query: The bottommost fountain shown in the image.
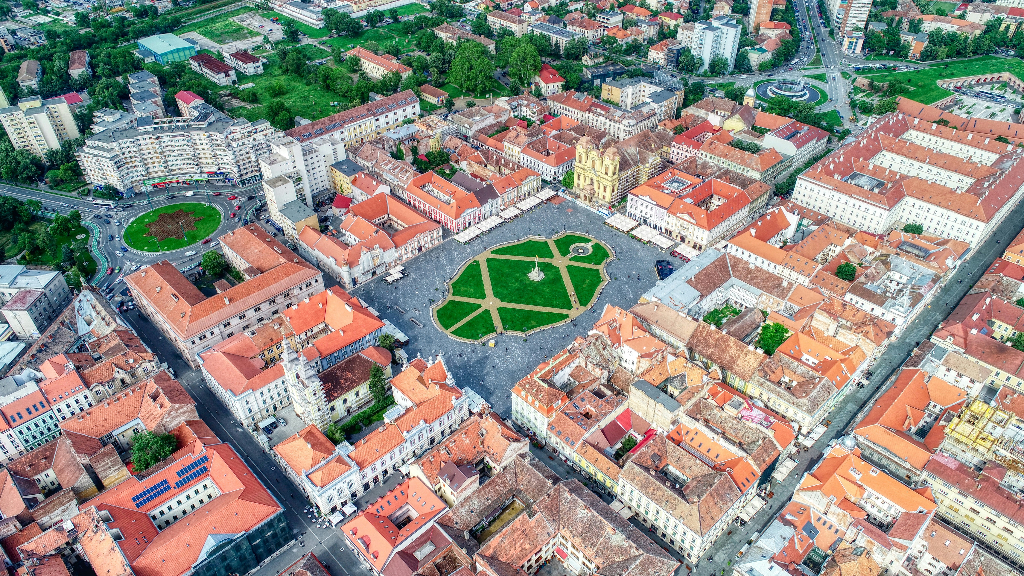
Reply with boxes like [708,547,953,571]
[569,242,593,256]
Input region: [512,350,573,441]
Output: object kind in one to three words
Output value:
house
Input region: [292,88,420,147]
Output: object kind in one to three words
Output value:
building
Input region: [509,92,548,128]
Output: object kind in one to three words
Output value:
house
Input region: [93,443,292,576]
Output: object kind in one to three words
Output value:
building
